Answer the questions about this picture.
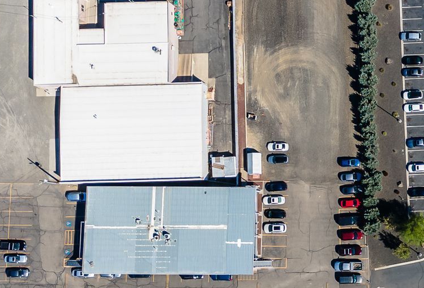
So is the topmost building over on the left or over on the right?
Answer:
left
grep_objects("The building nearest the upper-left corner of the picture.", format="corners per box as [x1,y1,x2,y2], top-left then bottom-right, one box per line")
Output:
[34,0,178,89]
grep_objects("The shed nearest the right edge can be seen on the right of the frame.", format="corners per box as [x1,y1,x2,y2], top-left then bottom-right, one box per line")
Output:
[248,152,264,174]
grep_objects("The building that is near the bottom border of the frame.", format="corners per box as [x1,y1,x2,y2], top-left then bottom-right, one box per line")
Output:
[82,187,259,274]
